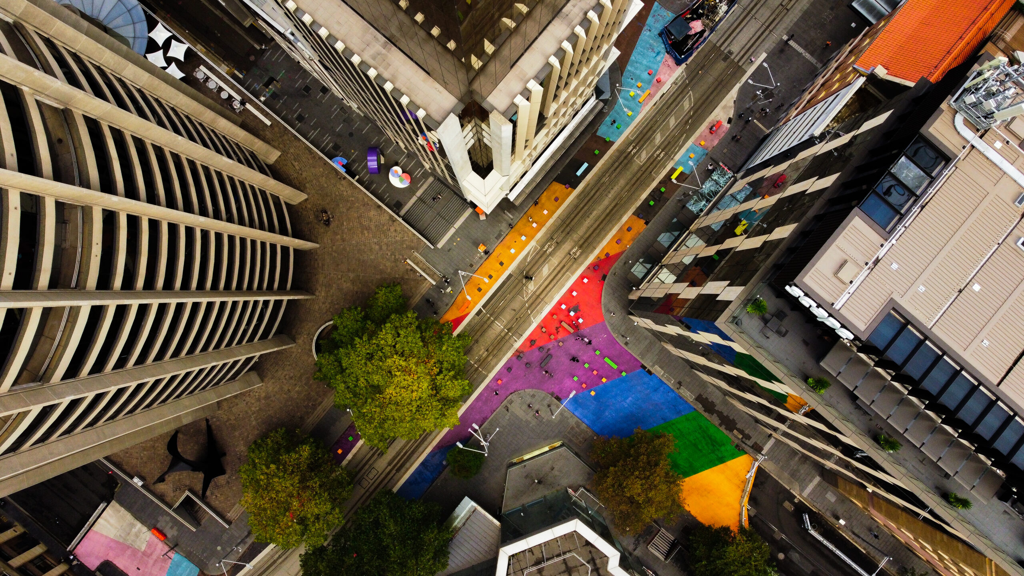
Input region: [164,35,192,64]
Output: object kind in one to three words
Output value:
umbrella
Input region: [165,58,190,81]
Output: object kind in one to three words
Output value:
umbrella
